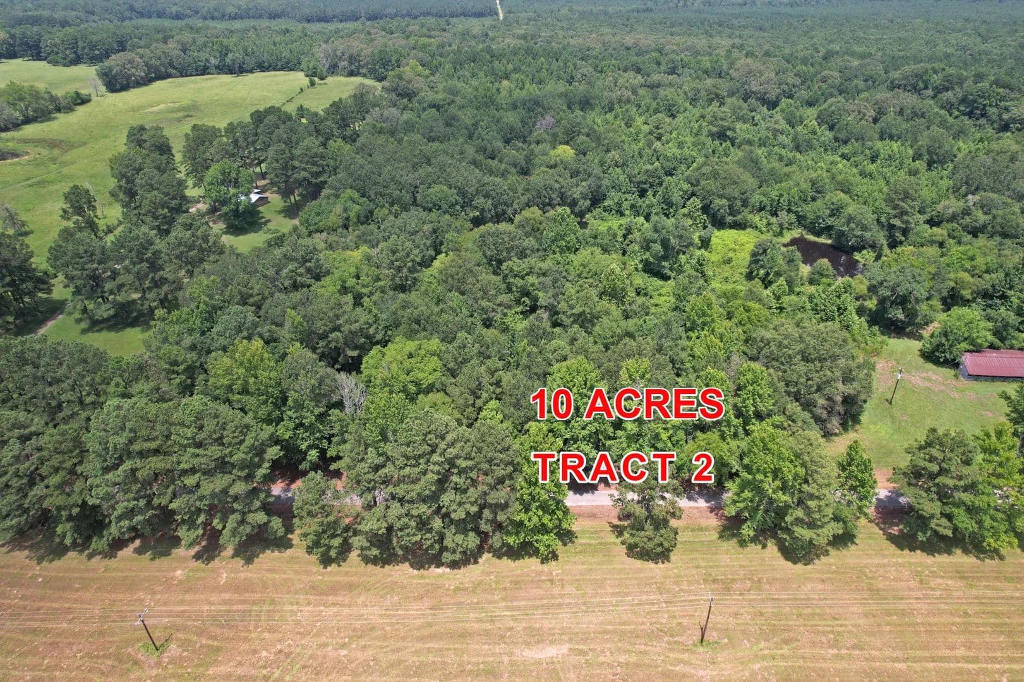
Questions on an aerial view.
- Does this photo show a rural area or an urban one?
rural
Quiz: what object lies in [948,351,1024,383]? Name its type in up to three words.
barn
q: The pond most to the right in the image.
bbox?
[782,235,865,279]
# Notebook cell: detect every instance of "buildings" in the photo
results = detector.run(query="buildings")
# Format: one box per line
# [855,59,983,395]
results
[948,351,1024,383]
[243,191,268,207]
